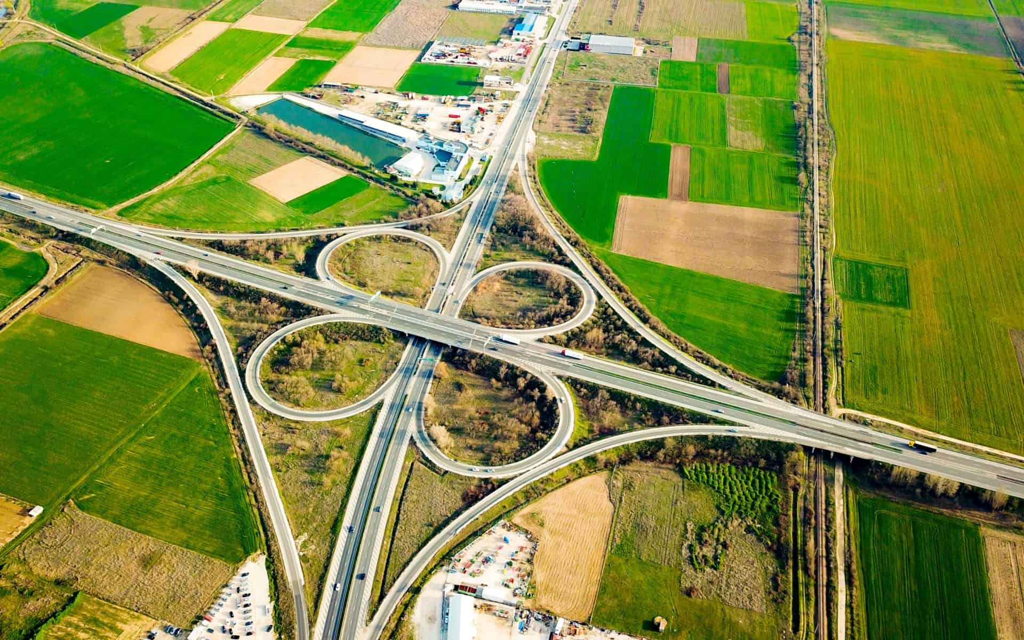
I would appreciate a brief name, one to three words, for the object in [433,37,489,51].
greenhouse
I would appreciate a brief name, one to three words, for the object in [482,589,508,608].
shed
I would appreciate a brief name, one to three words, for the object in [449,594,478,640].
building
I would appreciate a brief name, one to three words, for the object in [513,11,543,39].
building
